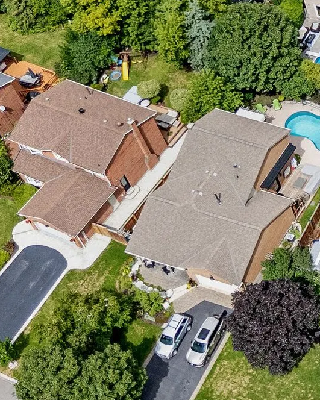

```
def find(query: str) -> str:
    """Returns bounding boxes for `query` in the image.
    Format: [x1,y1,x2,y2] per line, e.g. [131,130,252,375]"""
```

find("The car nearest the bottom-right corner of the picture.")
[188,313,225,365]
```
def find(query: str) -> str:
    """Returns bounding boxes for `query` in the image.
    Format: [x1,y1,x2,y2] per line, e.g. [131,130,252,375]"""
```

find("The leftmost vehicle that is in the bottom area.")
[154,315,192,360]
